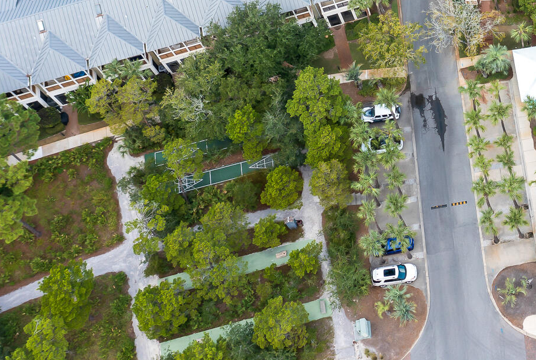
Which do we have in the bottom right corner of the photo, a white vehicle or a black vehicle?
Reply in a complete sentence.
What appears in the bottom right corner of the photo is a white vehicle.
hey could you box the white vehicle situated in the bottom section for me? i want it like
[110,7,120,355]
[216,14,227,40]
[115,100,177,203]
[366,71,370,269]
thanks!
[370,262,418,287]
